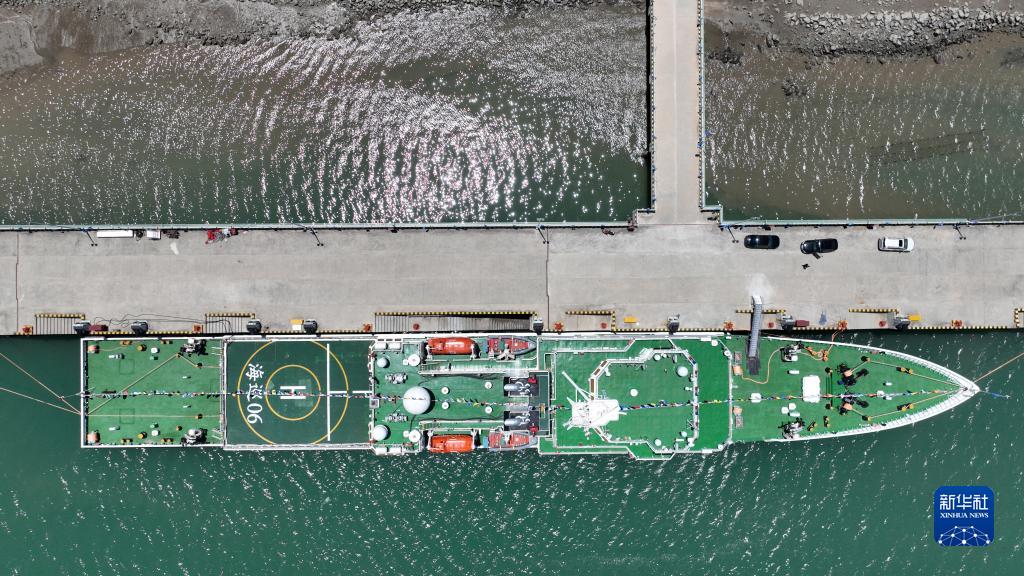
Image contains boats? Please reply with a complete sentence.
Yes, the frame does contain a boat.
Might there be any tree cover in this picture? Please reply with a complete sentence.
No, the scene doesn't show any tree cover.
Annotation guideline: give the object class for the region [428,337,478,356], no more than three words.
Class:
boat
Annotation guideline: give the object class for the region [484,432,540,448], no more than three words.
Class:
boat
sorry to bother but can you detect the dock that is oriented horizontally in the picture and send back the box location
[0,204,1024,335]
